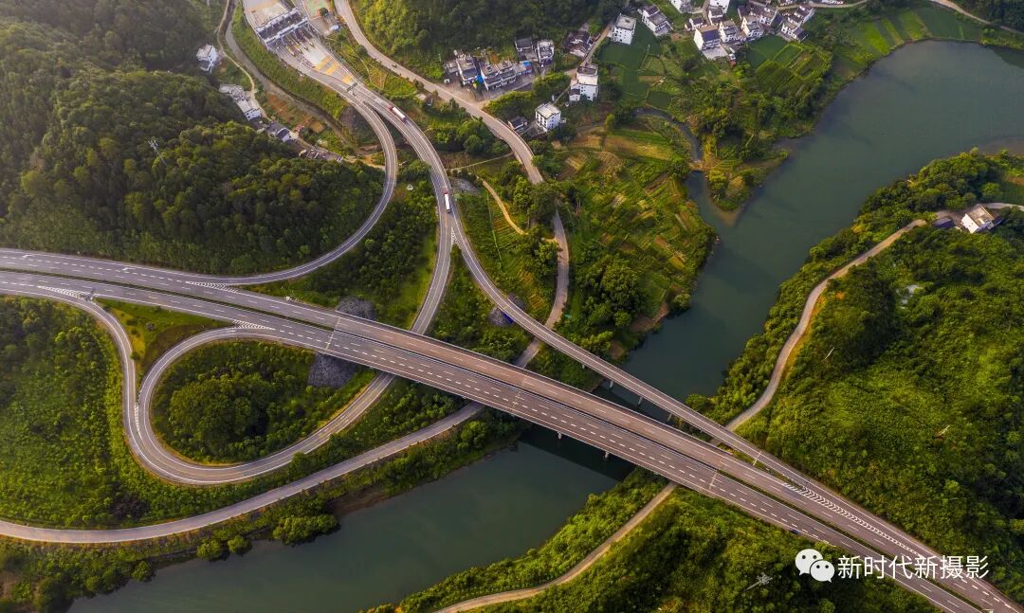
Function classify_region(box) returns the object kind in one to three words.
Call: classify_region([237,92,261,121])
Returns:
house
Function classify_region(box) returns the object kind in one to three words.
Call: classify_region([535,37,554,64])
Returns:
house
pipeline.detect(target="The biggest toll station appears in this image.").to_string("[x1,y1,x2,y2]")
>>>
[256,8,314,54]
